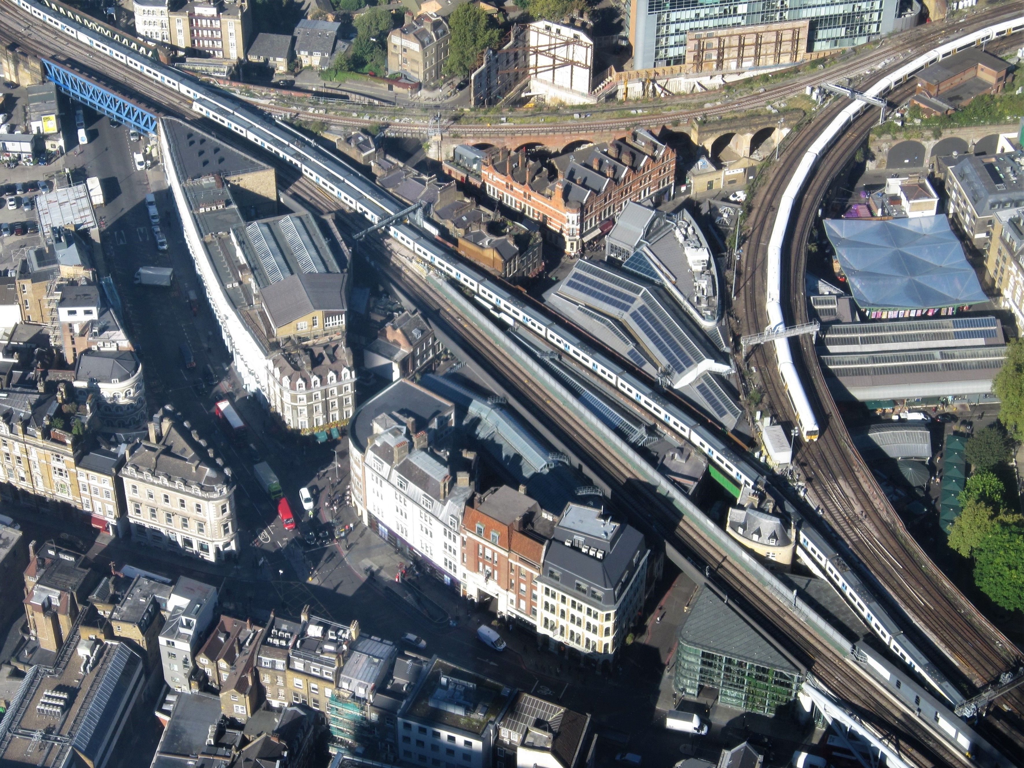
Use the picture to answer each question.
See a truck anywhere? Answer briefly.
Yes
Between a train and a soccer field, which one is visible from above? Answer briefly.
train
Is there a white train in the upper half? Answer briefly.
Yes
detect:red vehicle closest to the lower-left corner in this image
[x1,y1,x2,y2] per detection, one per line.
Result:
[278,493,294,522]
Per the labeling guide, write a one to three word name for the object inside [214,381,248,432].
bus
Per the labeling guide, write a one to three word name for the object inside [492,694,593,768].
house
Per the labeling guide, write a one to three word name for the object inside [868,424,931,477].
building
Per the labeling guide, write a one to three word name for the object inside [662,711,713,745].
truck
